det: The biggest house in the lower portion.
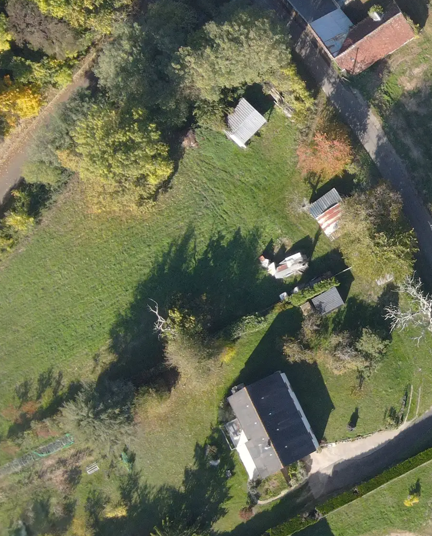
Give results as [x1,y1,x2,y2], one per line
[228,374,323,480]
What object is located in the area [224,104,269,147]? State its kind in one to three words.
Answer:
shed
